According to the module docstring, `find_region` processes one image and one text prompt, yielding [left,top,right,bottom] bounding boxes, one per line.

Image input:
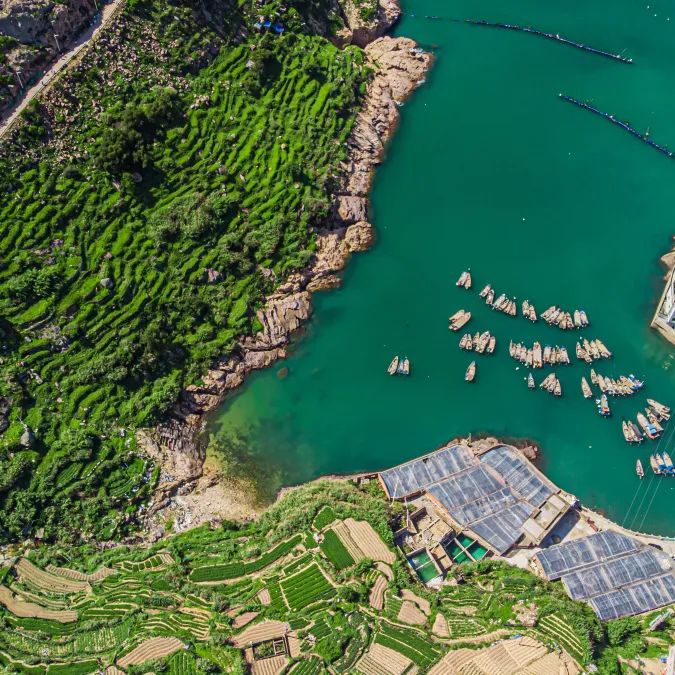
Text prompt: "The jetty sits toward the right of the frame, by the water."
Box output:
[648,265,675,354]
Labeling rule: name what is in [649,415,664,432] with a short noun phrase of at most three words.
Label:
boat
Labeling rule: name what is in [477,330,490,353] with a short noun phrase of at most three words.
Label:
boat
